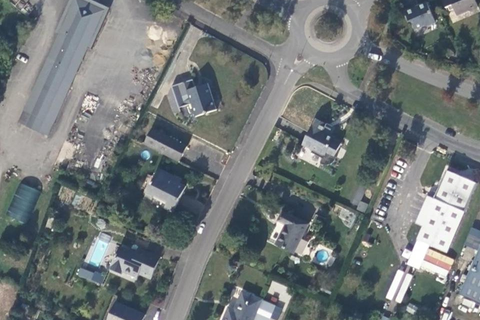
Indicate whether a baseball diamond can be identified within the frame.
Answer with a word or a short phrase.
No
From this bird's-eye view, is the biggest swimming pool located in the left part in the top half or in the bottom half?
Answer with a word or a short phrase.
bottom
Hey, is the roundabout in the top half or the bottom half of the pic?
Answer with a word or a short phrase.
top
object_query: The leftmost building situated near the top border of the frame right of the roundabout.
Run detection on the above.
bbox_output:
[402,0,437,34]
